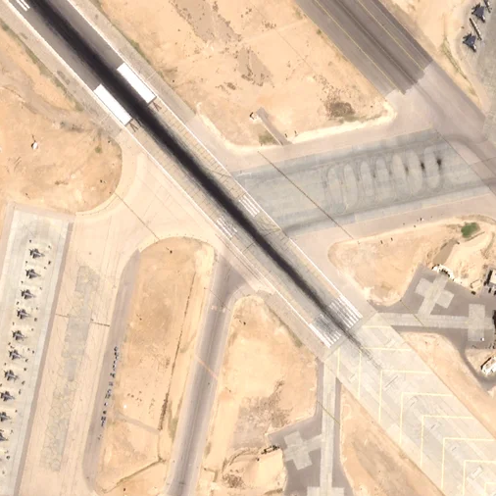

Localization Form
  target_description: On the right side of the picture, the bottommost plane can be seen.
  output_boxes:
[462,31,476,50]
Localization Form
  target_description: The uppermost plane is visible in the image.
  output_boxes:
[471,1,485,20]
